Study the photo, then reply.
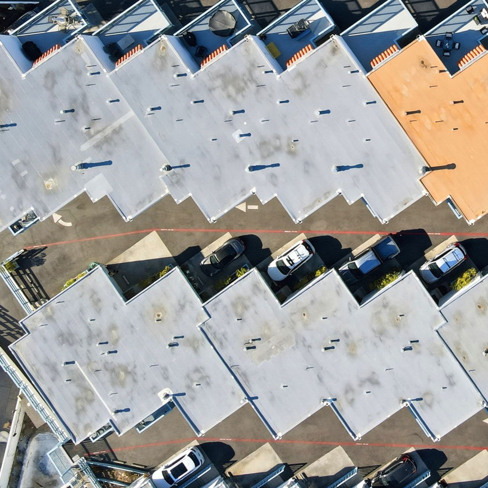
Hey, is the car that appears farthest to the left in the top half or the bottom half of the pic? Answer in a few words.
bottom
